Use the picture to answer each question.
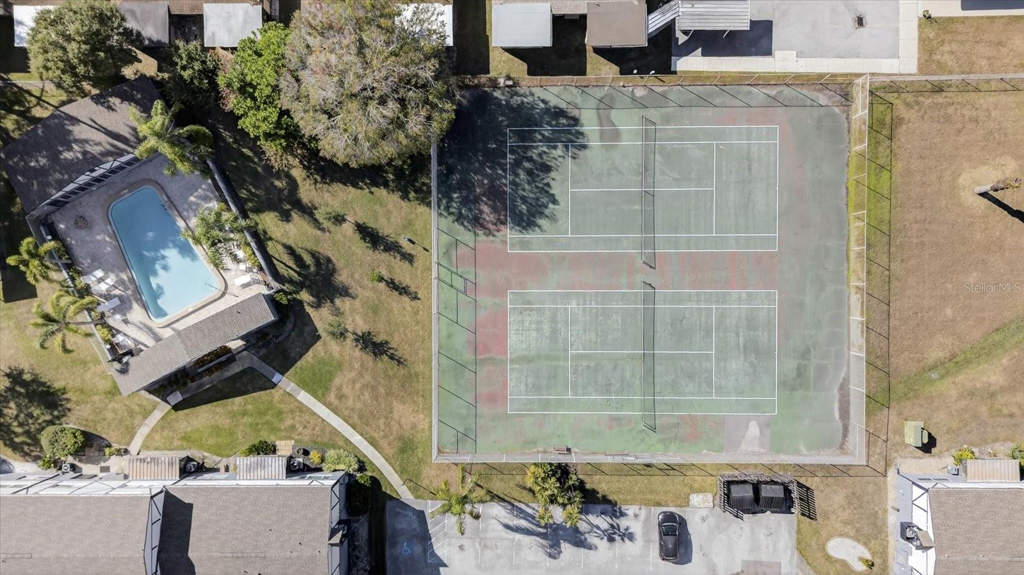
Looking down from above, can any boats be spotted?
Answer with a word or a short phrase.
No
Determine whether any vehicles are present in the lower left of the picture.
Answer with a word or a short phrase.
No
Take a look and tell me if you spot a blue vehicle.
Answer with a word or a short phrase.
No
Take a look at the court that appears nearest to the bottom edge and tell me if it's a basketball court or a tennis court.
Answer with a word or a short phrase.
tennis court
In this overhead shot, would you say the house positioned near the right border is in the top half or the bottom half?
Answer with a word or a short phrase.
bottom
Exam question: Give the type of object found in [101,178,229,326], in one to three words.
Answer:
swimming pool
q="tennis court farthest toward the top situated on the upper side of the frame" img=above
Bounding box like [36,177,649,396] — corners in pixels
[508,126,779,251]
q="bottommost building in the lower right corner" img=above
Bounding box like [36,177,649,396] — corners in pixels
[882,471,1024,575]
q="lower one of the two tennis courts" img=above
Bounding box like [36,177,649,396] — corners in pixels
[508,291,779,414]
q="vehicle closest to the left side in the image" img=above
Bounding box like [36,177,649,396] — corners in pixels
[658,513,683,564]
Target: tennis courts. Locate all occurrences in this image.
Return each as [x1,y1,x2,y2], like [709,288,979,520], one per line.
[508,291,779,414]
[508,126,779,251]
